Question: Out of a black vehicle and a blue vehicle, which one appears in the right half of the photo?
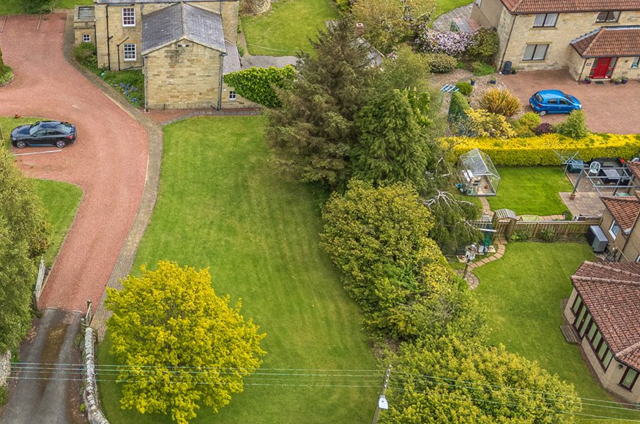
blue vehicle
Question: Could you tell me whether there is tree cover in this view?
Yes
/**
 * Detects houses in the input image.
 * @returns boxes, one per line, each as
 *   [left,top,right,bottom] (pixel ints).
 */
[556,156,640,403]
[71,0,266,111]
[464,0,640,84]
